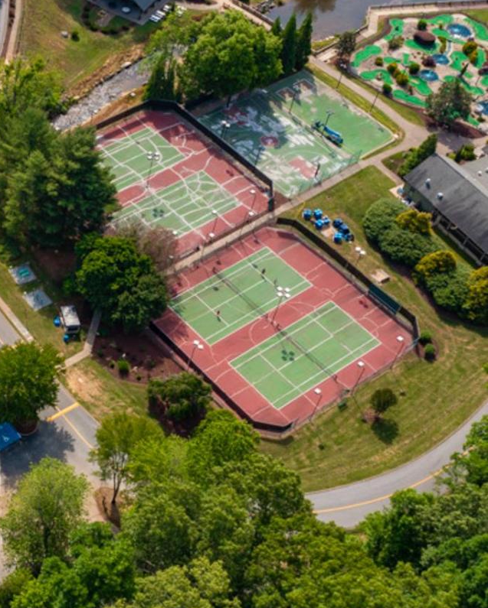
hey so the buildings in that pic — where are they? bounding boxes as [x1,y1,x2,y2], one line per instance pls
[406,156,488,255]
[92,0,178,30]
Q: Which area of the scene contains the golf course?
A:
top right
